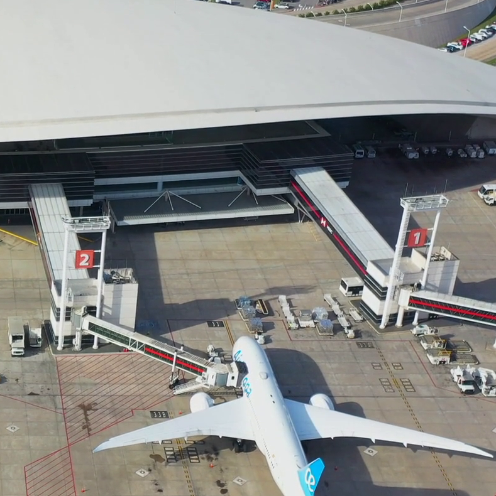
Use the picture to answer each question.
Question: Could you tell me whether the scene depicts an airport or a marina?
airport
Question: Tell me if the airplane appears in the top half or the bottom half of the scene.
bottom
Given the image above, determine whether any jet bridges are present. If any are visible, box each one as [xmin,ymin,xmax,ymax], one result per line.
[396,284,496,358]
[71,307,256,403]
